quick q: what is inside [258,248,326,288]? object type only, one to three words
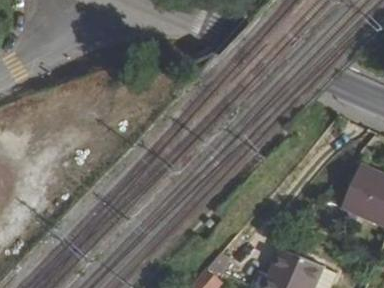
house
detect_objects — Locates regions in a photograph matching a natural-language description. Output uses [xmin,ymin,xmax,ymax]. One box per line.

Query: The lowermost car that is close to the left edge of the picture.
[4,32,16,51]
